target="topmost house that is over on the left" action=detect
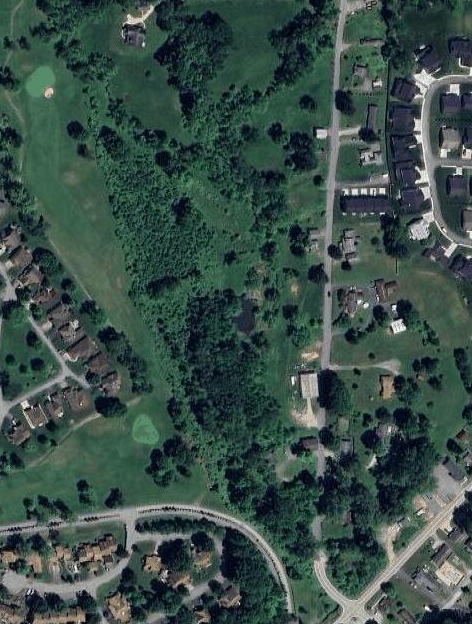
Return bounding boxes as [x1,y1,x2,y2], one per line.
[120,23,145,47]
